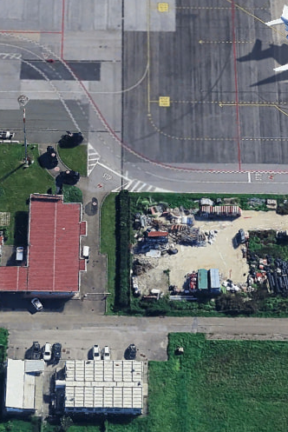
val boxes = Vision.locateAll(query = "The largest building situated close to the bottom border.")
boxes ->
[65,360,144,415]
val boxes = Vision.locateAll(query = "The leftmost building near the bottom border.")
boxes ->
[4,359,44,417]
